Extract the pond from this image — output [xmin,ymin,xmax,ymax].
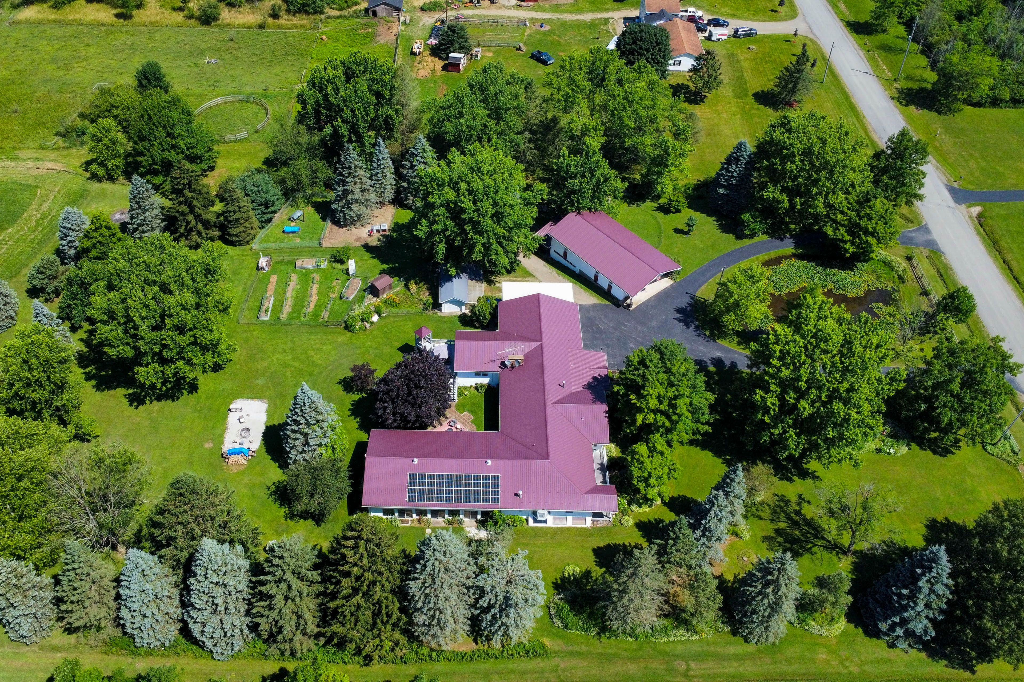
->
[760,257,902,324]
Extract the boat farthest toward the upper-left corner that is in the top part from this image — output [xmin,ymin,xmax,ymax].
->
[410,36,424,54]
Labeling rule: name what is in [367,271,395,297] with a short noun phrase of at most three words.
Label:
shed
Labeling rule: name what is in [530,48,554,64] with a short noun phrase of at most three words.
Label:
vehicle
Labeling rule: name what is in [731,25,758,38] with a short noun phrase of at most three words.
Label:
vehicle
